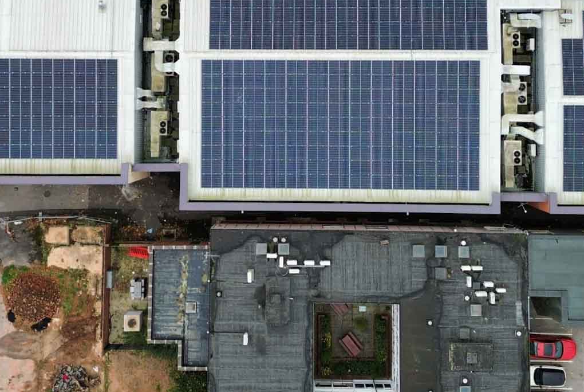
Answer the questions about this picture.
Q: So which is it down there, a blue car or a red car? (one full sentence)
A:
Looking from above, you can make out a red car.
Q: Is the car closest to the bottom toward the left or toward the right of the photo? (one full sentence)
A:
The car closest to the bottom sits on the right side.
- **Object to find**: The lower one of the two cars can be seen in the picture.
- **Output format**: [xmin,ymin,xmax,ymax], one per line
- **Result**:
[530,363,568,390]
